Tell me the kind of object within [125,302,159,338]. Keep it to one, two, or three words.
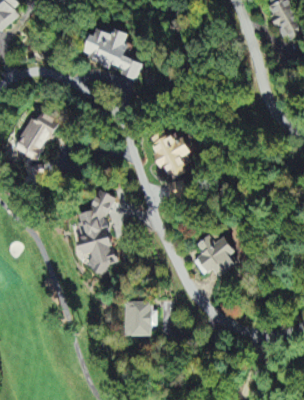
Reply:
house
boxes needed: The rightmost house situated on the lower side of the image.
[190,234,240,280]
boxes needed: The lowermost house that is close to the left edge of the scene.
[14,112,59,162]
